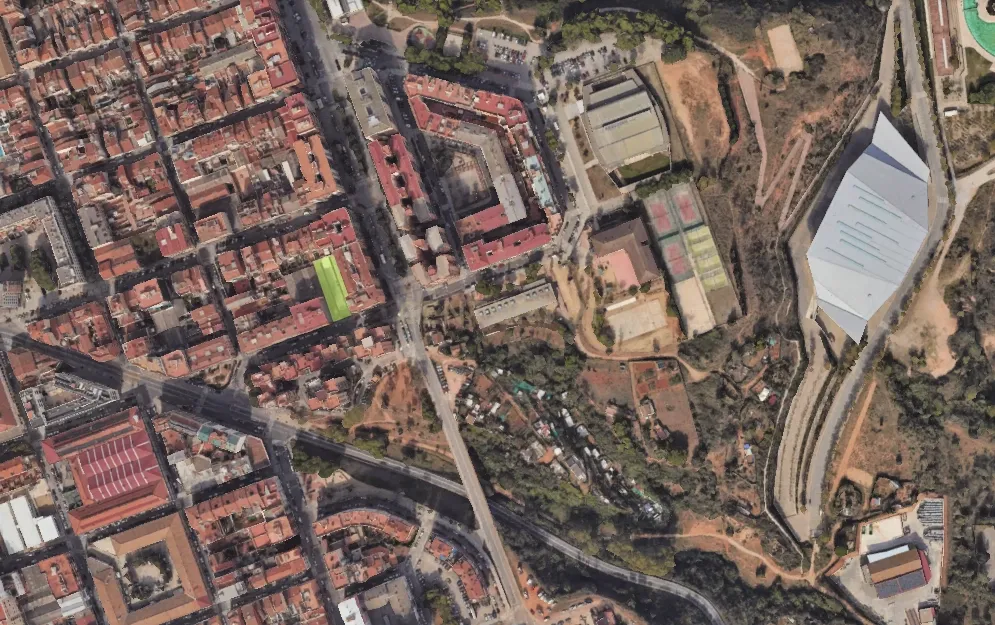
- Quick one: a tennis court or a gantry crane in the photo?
tennis court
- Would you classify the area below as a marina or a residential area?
residential area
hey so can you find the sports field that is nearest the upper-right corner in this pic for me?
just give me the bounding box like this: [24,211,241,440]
[769,25,803,77]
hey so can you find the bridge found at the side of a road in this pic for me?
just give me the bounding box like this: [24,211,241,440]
[394,294,533,625]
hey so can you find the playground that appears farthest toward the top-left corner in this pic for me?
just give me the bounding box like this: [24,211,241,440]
[409,24,432,51]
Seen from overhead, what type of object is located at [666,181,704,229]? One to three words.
tennis court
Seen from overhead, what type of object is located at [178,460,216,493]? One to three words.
house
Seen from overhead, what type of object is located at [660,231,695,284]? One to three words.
tennis court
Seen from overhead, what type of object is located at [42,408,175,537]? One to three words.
building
